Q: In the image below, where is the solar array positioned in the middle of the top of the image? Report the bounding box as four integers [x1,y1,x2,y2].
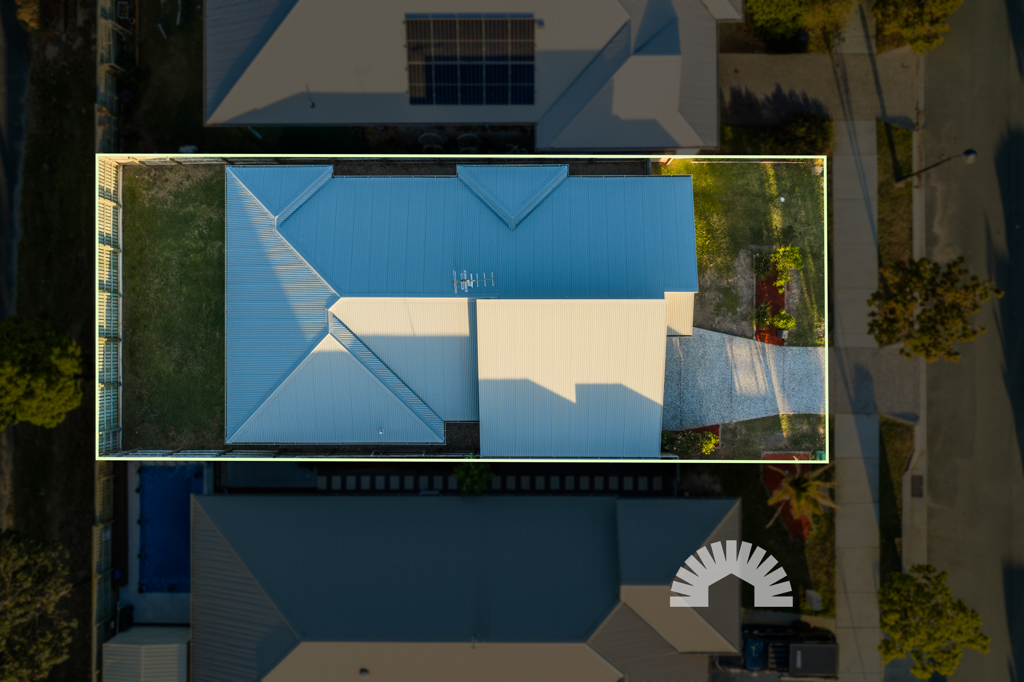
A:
[405,19,541,105]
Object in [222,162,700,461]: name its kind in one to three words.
house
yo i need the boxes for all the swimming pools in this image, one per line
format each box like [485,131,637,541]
[136,466,202,595]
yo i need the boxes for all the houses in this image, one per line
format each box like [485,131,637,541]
[222,162,700,461]
[202,0,746,155]
[189,493,744,682]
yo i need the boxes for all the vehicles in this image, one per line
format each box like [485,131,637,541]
[715,623,840,677]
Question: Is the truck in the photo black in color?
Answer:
Yes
